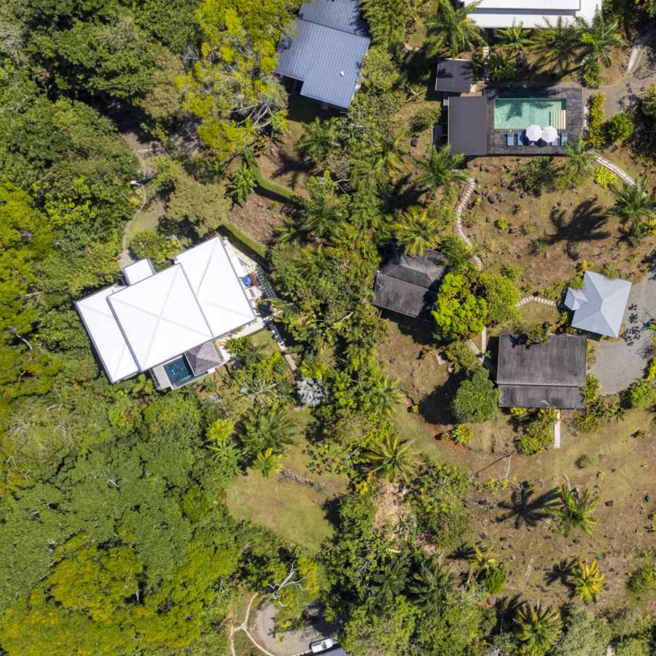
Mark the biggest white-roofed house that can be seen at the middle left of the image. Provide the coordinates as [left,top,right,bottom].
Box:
[75,236,256,384]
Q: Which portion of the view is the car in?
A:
bottom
